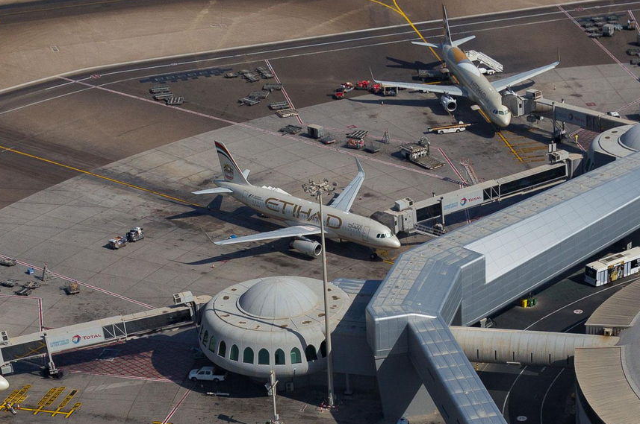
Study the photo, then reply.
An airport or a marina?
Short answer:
airport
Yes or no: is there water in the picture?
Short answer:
No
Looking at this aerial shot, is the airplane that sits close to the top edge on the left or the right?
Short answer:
right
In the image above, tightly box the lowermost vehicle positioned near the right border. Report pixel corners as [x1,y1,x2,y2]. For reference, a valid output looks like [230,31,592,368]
[590,247,640,282]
